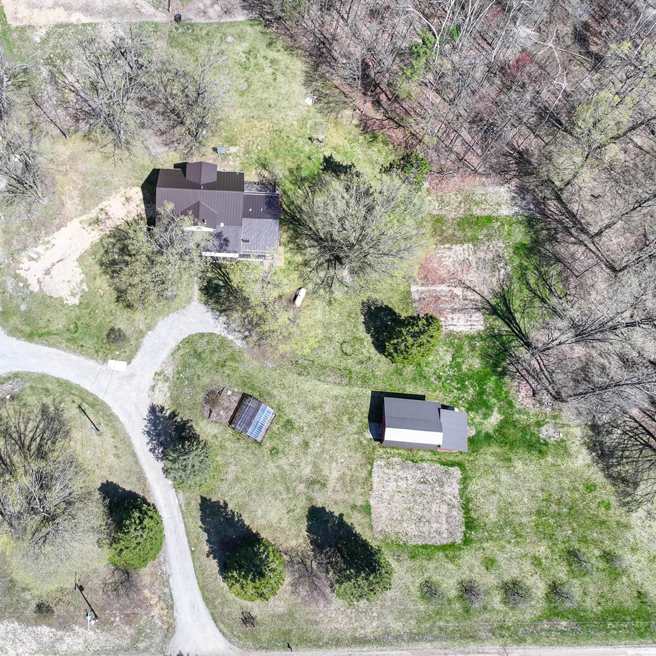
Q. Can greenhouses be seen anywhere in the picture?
Yes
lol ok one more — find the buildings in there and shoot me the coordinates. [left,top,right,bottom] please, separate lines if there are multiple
[228,394,279,444]
[370,400,464,453]
[155,157,279,270]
